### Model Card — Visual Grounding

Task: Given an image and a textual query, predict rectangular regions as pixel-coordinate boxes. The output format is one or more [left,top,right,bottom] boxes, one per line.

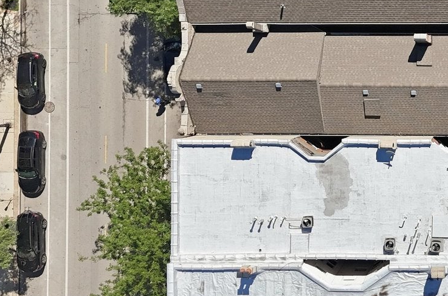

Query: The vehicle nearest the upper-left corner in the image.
[9,51,46,110]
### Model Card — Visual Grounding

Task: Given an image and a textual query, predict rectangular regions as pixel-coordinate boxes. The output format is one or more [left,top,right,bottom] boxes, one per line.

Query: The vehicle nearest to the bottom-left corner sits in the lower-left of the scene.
[10,205,46,276]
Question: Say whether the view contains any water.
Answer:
No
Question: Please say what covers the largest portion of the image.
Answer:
buildings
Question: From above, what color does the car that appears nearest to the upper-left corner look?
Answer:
black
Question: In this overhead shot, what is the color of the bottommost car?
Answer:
black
